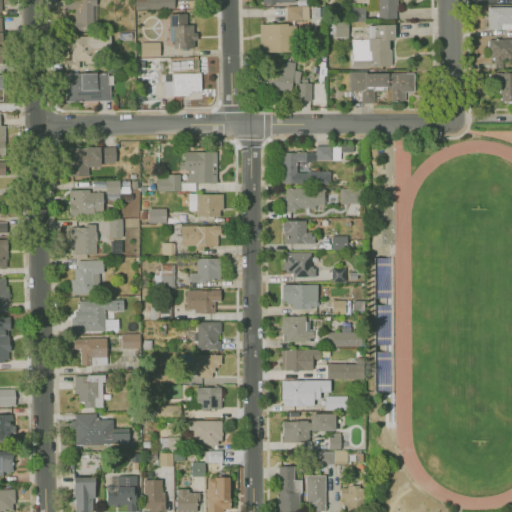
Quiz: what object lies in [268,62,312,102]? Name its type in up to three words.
house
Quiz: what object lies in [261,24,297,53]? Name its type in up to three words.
house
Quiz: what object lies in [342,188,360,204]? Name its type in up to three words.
building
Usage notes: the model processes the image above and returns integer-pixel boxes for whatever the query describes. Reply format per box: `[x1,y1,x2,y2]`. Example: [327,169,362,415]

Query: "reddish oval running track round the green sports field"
[395,138,512,509]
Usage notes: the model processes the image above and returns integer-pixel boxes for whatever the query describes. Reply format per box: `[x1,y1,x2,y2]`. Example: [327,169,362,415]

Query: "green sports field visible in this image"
[412,154,512,497]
